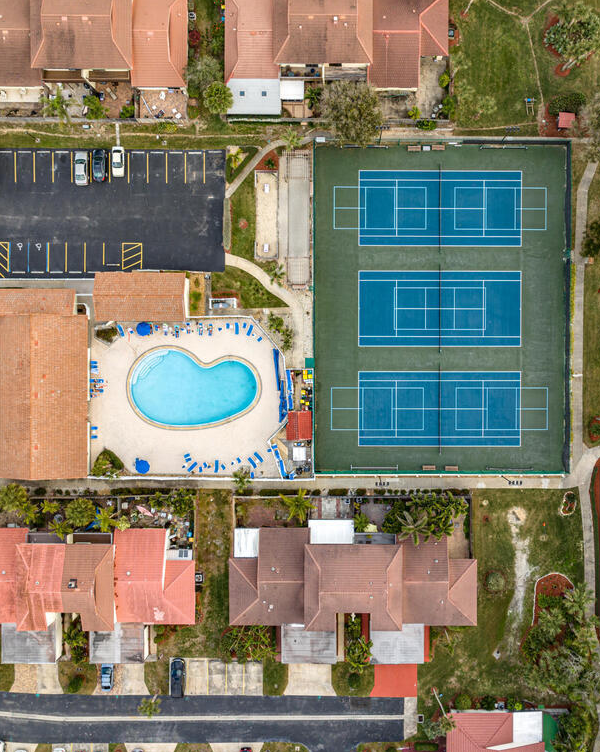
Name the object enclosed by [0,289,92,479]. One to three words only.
building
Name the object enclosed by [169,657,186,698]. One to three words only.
vehicle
